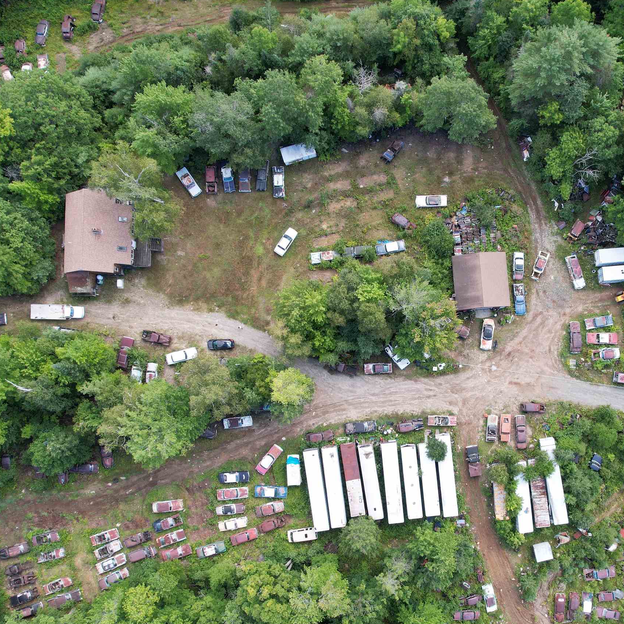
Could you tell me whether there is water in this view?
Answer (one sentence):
No, water can't be seen anywhere here.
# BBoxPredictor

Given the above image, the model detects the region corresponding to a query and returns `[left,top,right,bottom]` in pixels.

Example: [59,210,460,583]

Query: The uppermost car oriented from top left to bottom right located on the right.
[392,212,414,232]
